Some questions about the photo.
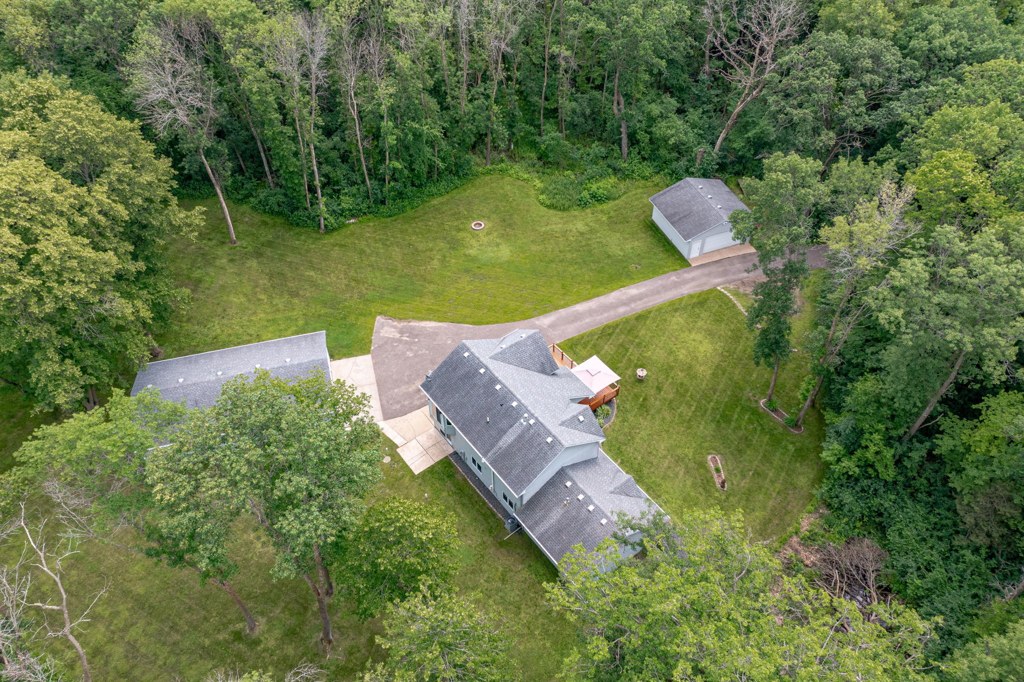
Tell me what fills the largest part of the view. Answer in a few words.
trees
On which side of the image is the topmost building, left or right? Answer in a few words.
right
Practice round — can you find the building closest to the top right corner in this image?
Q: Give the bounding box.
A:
[648,178,761,258]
